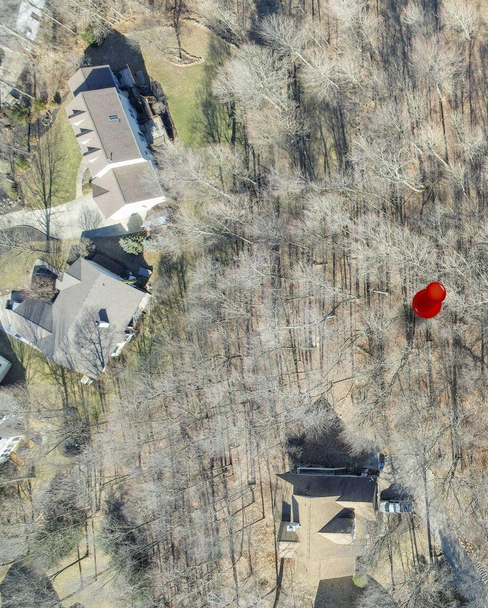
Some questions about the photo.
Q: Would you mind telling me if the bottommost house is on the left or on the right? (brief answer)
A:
right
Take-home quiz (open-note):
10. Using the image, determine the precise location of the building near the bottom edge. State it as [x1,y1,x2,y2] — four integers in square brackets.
[274,462,383,582]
